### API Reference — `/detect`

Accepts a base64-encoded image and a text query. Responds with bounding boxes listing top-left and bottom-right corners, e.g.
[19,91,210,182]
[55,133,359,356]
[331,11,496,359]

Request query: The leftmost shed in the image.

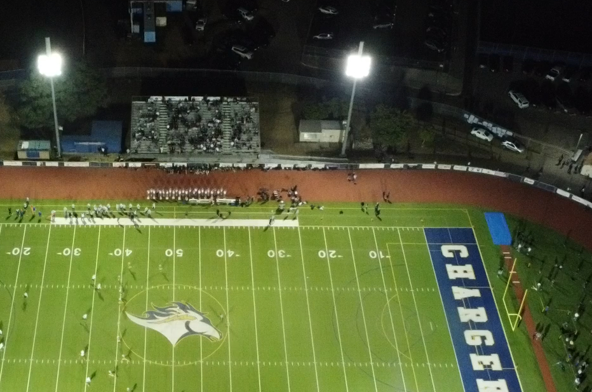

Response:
[15,137,51,156]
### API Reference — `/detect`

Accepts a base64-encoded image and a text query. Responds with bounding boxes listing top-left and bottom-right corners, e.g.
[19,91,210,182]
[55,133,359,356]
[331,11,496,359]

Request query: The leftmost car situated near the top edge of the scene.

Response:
[194,17,208,31]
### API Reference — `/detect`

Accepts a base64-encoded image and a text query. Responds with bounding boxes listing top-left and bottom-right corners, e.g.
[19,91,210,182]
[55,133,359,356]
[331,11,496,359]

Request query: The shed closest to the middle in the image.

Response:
[299,118,345,143]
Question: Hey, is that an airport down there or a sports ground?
sports ground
